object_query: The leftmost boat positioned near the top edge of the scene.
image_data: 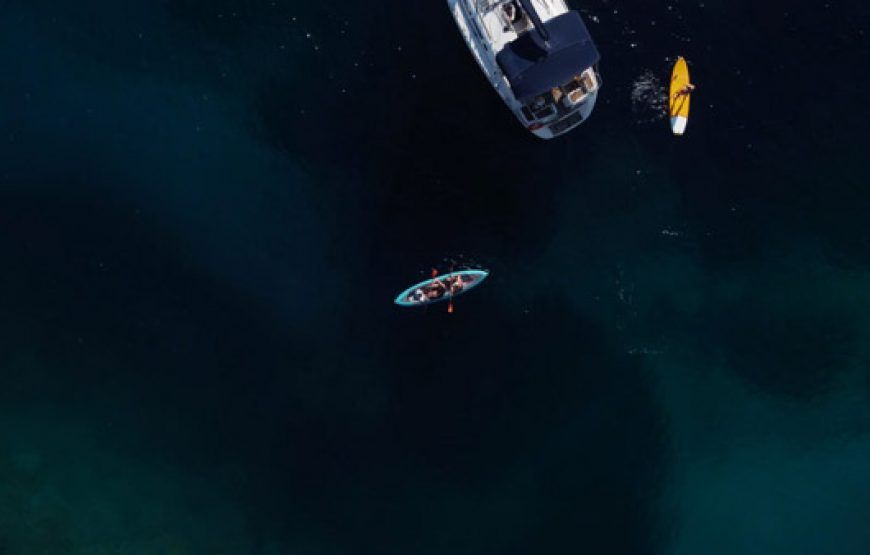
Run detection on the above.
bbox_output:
[443,0,603,143]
